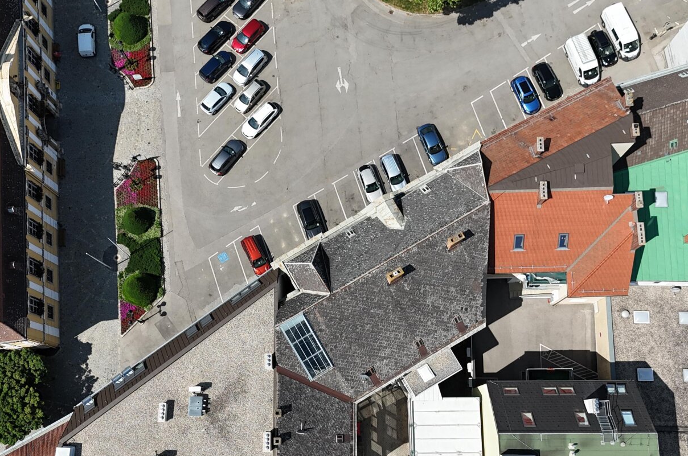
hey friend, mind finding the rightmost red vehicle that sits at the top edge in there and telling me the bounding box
[230,18,270,54]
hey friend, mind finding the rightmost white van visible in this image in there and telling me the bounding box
[599,0,641,62]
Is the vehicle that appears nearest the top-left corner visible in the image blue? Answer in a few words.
Yes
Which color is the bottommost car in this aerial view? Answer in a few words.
red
